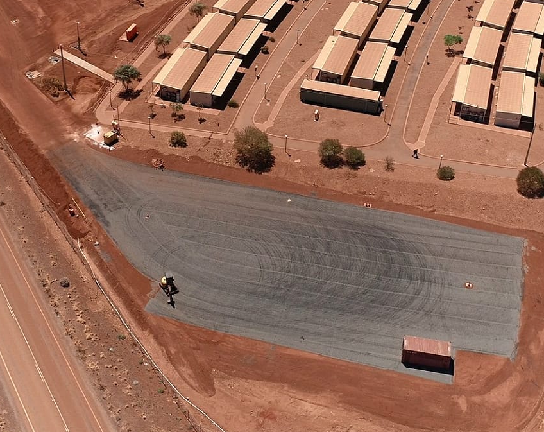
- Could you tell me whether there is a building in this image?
Yes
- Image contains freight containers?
Yes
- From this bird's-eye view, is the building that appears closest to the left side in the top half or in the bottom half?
top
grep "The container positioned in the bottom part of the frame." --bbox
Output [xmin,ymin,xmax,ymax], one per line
[402,336,451,369]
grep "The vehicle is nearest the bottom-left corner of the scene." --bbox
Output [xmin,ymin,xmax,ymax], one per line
[161,276,176,305]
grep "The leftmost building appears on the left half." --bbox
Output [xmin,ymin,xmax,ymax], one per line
[153,50,210,103]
